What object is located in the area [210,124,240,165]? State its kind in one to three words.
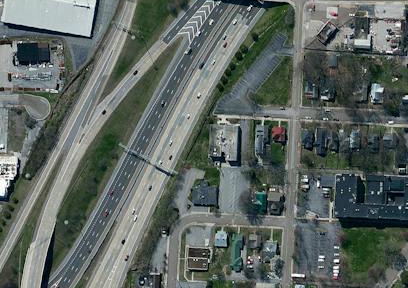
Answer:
building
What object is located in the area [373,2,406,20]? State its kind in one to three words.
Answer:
building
